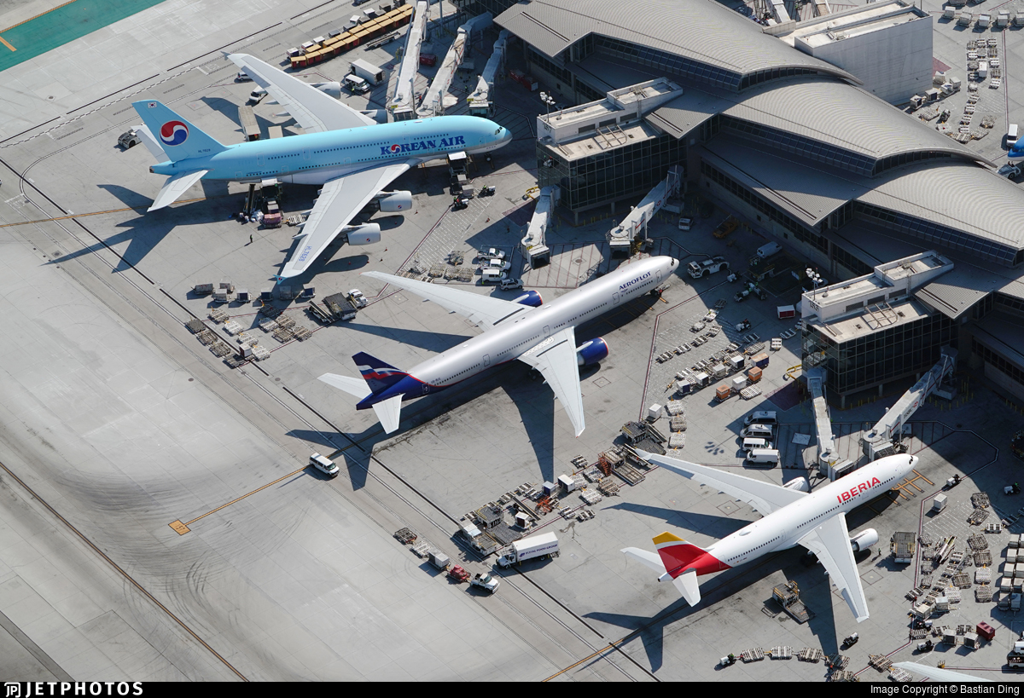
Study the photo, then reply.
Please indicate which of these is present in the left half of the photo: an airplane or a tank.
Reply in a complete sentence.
What appears in the left half of the photo is an airplane.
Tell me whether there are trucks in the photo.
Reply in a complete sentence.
Yes, a truck appears in the view.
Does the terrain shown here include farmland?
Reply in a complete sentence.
No, no farmland is visible.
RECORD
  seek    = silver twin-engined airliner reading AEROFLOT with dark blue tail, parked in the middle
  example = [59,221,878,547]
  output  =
[320,257,679,435]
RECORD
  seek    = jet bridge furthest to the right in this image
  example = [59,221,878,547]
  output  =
[861,345,958,456]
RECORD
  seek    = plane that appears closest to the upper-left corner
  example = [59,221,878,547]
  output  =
[127,51,512,283]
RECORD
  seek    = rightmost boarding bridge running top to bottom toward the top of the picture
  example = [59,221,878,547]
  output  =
[519,184,561,263]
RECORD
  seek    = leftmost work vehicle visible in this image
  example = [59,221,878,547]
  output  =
[113,130,140,149]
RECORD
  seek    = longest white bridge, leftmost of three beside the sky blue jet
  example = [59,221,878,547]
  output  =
[390,0,440,119]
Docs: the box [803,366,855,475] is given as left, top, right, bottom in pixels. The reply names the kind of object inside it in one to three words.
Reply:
jet bridge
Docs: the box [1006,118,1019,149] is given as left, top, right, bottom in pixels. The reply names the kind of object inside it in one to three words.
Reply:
vehicle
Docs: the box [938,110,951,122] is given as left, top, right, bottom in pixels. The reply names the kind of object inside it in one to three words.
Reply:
vehicle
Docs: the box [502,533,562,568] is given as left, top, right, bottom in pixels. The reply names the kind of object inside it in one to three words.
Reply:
truck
